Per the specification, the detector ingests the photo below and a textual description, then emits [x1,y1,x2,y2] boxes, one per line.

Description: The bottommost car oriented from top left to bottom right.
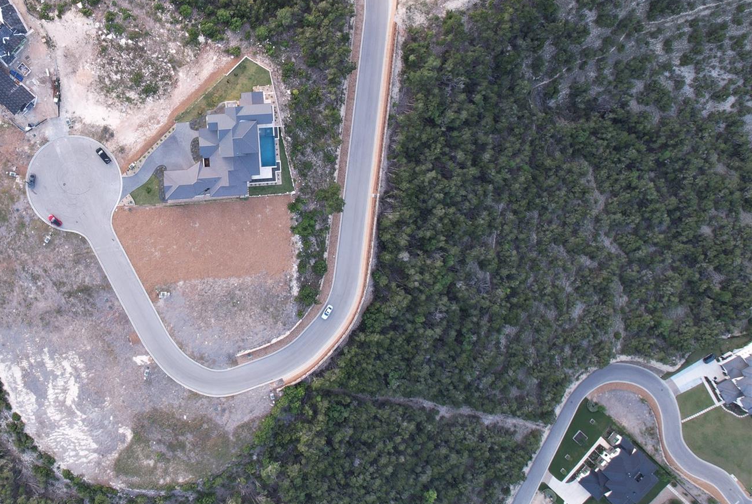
[46,214,64,229]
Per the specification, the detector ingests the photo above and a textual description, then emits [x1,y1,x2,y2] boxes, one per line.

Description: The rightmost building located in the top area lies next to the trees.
[164,91,273,199]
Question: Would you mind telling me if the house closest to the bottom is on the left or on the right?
right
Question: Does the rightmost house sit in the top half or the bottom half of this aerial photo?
bottom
